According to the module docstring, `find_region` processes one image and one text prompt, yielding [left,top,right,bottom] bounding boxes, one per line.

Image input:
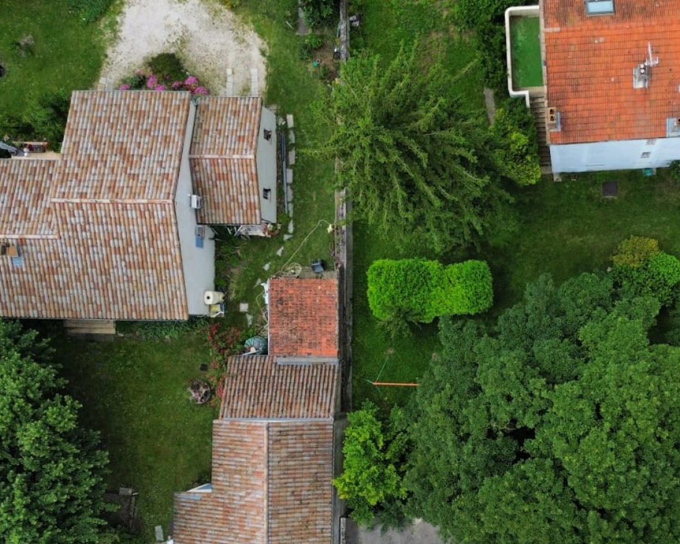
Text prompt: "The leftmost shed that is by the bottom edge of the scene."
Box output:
[174,416,341,544]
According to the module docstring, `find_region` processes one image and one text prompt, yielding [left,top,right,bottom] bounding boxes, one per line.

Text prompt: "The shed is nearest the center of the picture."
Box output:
[267,277,342,358]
